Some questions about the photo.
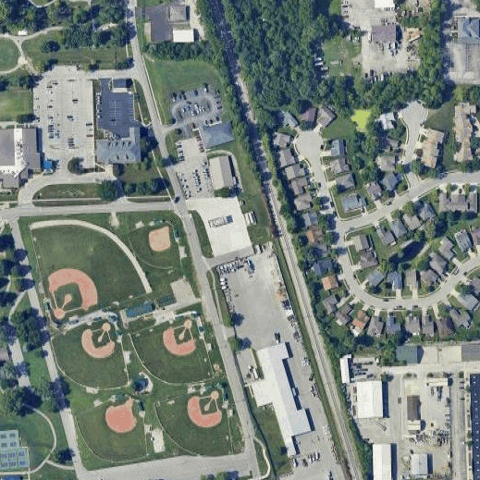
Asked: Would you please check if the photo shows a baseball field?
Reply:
Yes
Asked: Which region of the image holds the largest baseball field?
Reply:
left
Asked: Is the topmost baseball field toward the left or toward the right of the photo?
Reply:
left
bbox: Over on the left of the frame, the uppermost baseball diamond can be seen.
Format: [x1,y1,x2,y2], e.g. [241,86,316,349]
[129,220,186,270]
